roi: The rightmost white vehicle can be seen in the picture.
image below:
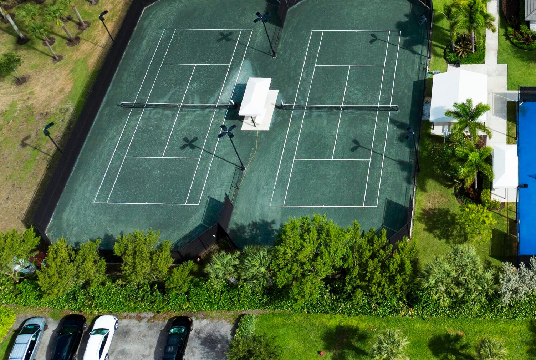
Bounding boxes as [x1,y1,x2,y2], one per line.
[81,316,119,360]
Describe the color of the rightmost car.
black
